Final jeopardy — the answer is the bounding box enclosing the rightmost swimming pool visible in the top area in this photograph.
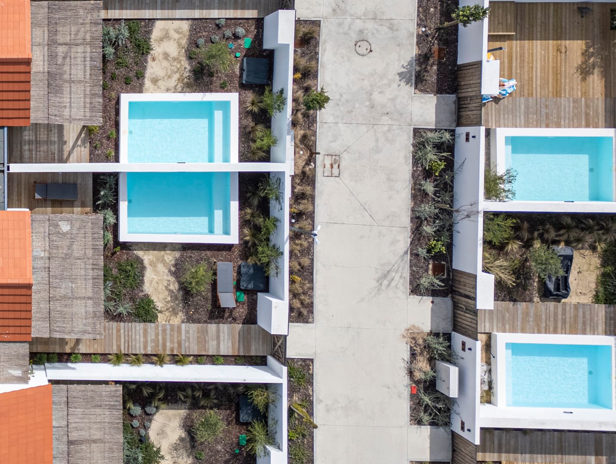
[490,128,616,200]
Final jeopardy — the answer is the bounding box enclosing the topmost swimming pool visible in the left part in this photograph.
[118,93,238,162]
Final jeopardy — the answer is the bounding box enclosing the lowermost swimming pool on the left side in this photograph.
[118,171,238,243]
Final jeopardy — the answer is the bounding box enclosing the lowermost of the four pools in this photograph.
[490,333,615,411]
